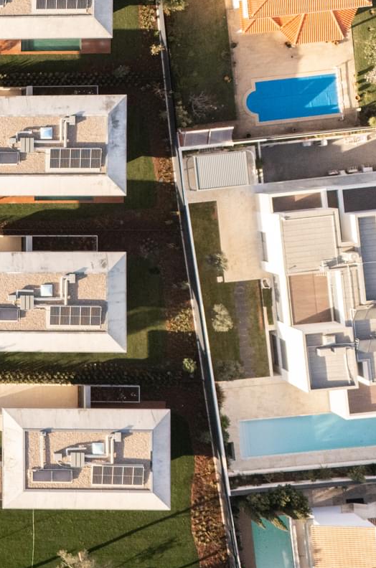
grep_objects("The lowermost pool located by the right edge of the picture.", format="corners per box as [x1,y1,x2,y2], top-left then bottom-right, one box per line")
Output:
[239,418,376,458]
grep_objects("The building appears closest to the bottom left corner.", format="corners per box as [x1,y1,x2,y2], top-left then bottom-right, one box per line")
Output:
[0,409,171,510]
